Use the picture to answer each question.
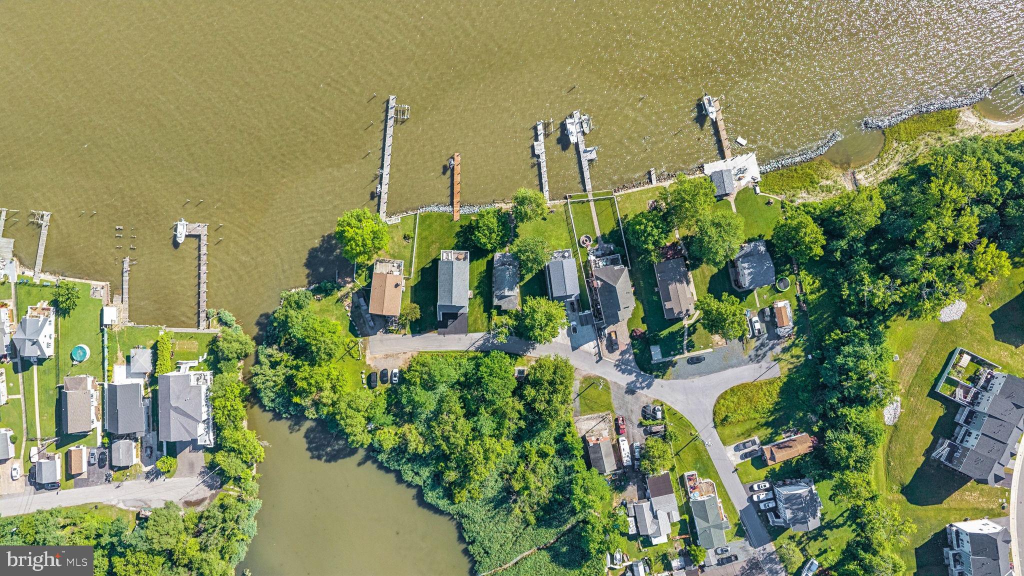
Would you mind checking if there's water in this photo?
Yes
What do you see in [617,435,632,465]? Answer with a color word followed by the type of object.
white camper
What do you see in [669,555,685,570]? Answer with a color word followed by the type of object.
white camper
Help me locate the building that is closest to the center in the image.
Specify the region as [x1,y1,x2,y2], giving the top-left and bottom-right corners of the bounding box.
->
[493,254,518,309]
